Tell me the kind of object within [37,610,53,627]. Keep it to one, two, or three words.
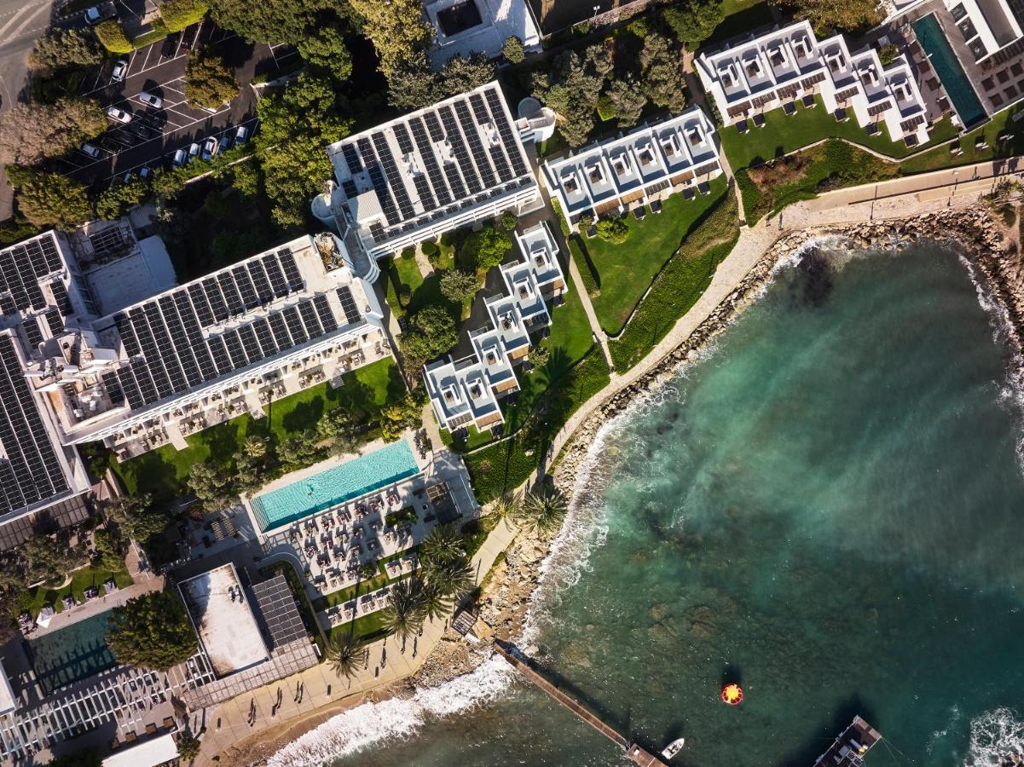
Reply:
umbrella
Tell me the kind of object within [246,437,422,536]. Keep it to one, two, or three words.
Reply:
swimming pool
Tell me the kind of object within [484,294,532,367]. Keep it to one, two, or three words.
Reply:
house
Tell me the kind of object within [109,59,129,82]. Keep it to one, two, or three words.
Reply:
car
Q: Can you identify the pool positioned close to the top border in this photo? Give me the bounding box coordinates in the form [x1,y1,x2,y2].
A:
[909,9,992,132]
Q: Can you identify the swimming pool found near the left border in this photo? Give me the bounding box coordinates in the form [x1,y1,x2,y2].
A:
[24,601,147,699]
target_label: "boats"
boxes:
[661,738,685,761]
